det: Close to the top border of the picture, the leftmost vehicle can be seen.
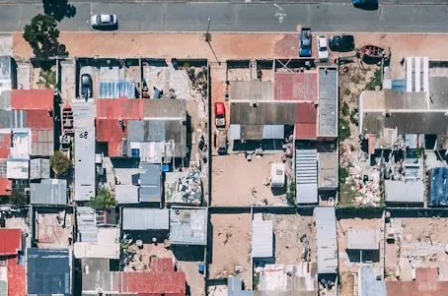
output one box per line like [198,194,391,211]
[90,12,116,26]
